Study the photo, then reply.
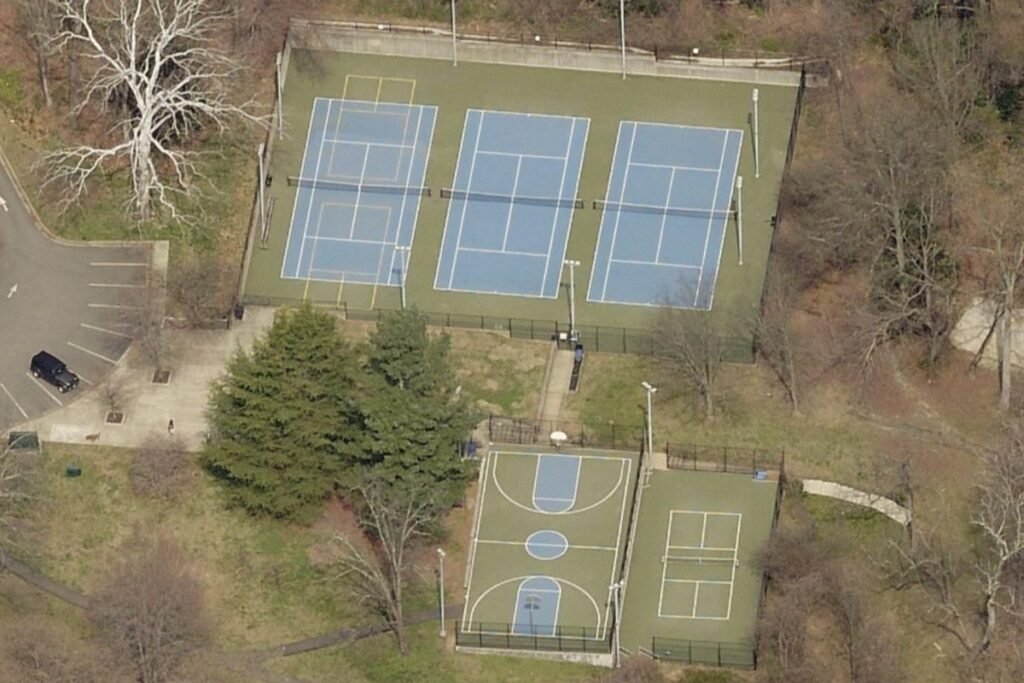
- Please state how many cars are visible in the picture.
one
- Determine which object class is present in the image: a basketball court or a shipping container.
basketball court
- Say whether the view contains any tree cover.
Yes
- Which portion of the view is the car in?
left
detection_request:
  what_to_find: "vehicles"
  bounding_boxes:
[30,348,79,390]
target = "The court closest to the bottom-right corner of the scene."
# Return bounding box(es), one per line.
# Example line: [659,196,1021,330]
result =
[658,511,742,620]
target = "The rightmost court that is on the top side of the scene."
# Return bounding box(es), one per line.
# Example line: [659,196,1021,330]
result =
[588,121,743,310]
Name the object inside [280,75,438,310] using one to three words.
tennis court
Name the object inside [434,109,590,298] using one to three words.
tennis court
